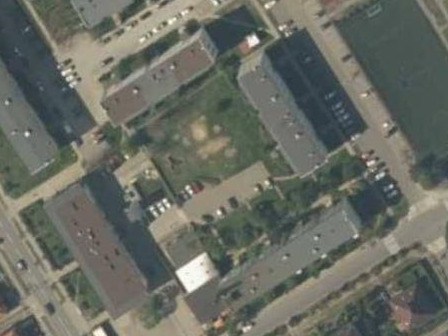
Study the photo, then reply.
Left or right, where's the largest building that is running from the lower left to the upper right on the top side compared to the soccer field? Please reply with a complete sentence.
The soccer field has the largest building that is running from the lower left to the upper right on the top side on its left side.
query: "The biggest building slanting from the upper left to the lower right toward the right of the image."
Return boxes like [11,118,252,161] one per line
[237,53,327,175]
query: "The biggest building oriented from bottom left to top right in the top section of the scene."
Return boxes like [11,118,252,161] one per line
[103,32,220,124]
